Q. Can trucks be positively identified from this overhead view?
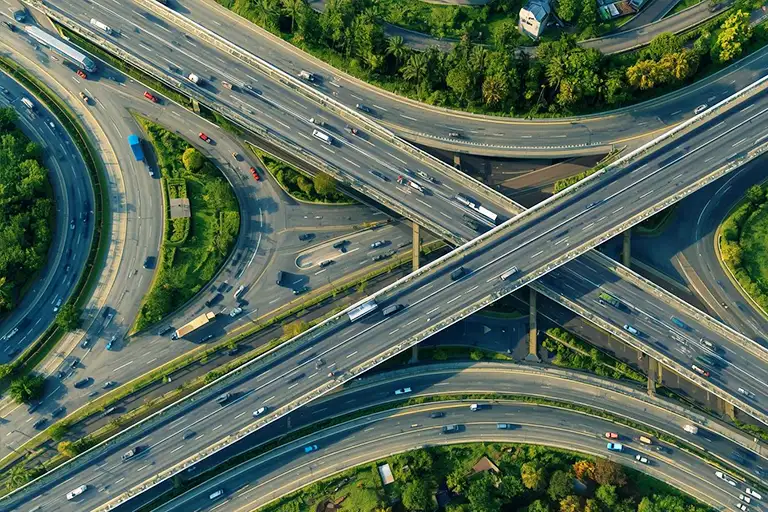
Yes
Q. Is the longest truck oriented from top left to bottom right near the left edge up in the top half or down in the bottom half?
top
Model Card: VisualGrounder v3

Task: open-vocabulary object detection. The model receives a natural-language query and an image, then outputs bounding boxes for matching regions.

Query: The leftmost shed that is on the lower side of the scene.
[379,463,398,489]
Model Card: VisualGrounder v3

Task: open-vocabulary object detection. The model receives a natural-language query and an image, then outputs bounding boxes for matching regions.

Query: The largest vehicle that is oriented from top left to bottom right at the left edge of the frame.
[27,24,94,73]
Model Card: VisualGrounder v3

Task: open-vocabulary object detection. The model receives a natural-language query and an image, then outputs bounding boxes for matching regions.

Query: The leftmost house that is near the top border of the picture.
[518,0,557,40]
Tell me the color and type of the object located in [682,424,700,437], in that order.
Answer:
white vehicle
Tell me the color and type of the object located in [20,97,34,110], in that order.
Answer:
white vehicle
